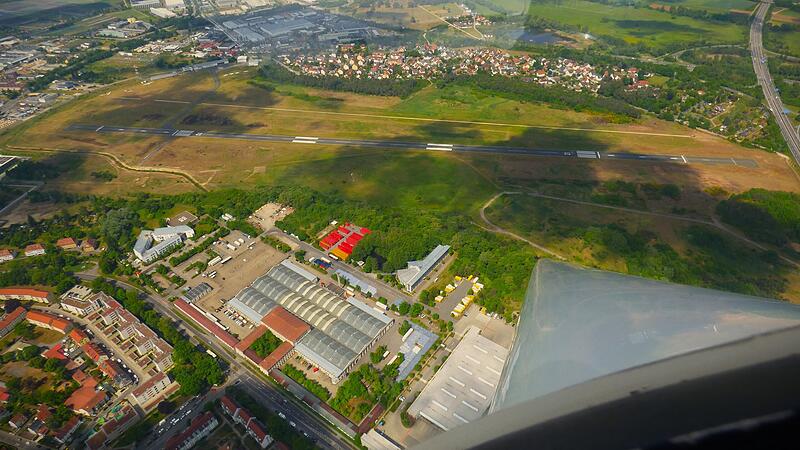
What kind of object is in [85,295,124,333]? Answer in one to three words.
house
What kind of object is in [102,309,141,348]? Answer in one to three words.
house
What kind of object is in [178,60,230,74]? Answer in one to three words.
hangar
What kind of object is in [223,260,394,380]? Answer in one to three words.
building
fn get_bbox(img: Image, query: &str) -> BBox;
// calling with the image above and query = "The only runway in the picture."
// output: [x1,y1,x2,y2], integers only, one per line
[61,124,760,166]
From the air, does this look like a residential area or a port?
residential area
